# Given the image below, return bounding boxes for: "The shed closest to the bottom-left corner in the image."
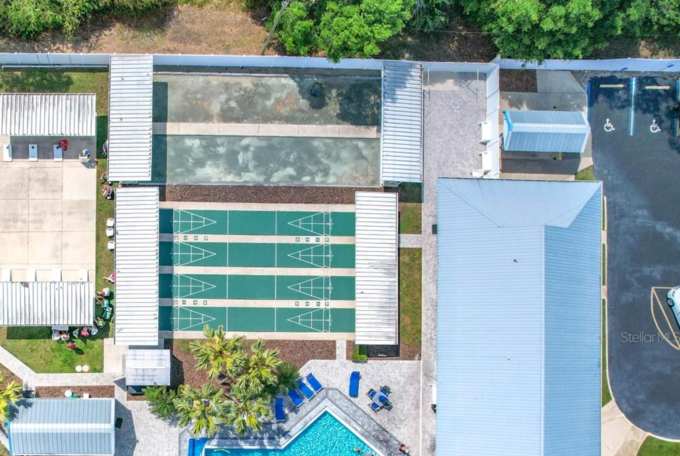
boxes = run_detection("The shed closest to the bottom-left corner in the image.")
[6,397,116,456]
